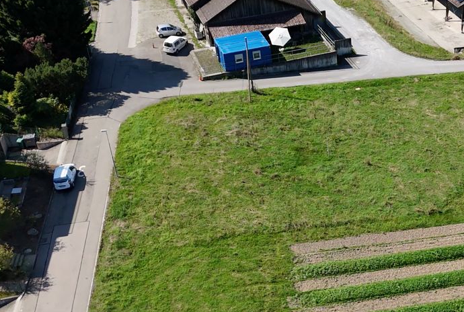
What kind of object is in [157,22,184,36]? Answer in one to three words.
vehicle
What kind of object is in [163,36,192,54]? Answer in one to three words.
car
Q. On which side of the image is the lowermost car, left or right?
left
